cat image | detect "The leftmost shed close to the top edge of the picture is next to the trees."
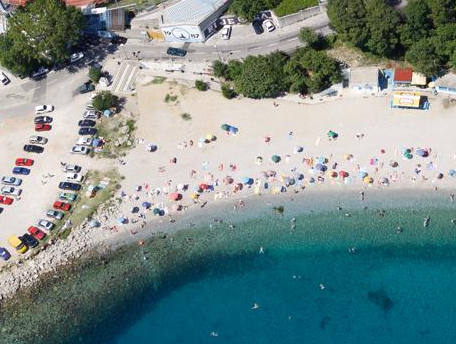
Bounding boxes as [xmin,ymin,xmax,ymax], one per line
[84,15,105,40]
